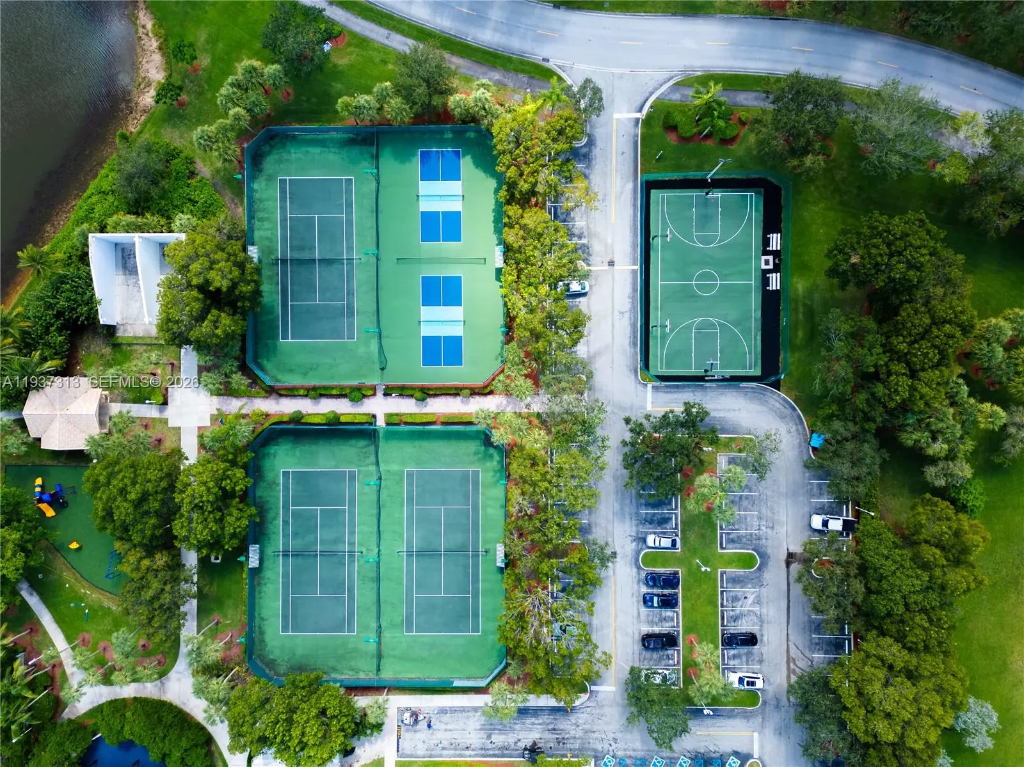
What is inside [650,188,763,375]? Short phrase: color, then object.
green basketball court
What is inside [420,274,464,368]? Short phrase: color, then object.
blue sports court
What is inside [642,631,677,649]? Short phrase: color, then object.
black car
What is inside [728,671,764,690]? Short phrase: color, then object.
white car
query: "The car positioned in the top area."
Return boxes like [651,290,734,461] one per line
[559,280,591,295]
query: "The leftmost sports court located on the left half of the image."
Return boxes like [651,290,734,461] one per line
[86,231,211,338]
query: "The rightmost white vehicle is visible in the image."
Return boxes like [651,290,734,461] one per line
[810,514,855,532]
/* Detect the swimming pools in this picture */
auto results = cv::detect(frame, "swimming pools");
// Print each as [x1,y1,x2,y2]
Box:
[82,732,164,767]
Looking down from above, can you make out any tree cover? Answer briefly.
Yes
